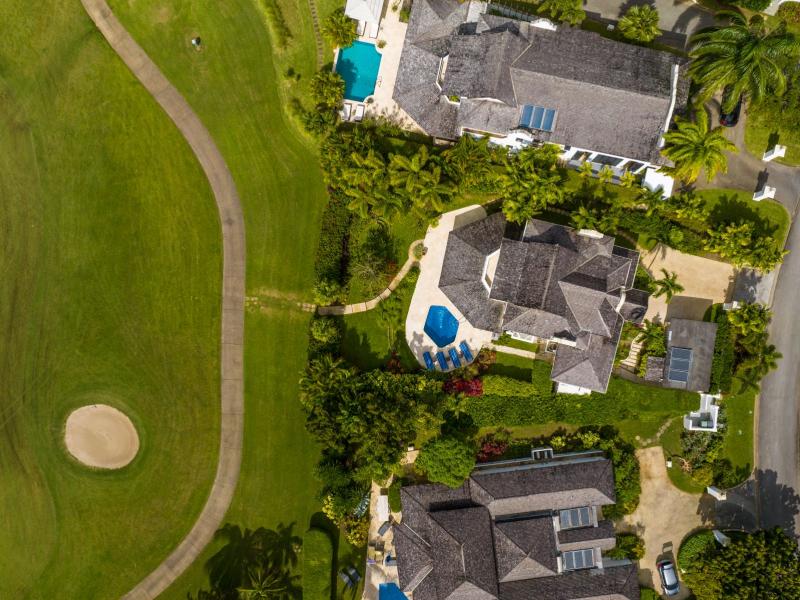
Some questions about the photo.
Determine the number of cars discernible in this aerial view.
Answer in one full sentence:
My tally gives 2 cars in this view.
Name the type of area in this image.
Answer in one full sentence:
What you see here is a golf course.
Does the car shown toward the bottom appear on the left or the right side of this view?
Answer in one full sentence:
The car shown toward the bottom is on the right side of the image.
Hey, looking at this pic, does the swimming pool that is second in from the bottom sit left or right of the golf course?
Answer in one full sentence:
The swimming pool that is second in from the bottom is to the right of the golf course.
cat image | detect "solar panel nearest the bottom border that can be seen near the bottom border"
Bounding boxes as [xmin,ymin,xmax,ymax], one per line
[563,551,594,570]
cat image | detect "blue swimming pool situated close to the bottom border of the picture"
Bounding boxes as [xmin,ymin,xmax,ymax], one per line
[375,580,412,600]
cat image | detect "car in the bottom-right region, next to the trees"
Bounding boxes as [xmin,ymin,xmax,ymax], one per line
[655,559,680,597]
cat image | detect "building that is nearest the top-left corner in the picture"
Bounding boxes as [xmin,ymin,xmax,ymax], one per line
[345,0,384,37]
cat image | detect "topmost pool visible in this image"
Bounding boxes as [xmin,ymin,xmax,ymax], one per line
[332,38,384,103]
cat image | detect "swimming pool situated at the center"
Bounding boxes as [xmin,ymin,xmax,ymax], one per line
[421,303,465,351]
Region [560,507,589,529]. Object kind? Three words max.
solar panel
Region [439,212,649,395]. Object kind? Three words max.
house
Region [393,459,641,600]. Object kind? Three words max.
house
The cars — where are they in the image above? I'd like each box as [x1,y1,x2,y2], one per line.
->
[655,559,680,597]
[720,89,741,124]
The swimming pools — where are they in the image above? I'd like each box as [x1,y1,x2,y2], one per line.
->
[421,303,465,351]
[375,580,412,600]
[332,38,384,103]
